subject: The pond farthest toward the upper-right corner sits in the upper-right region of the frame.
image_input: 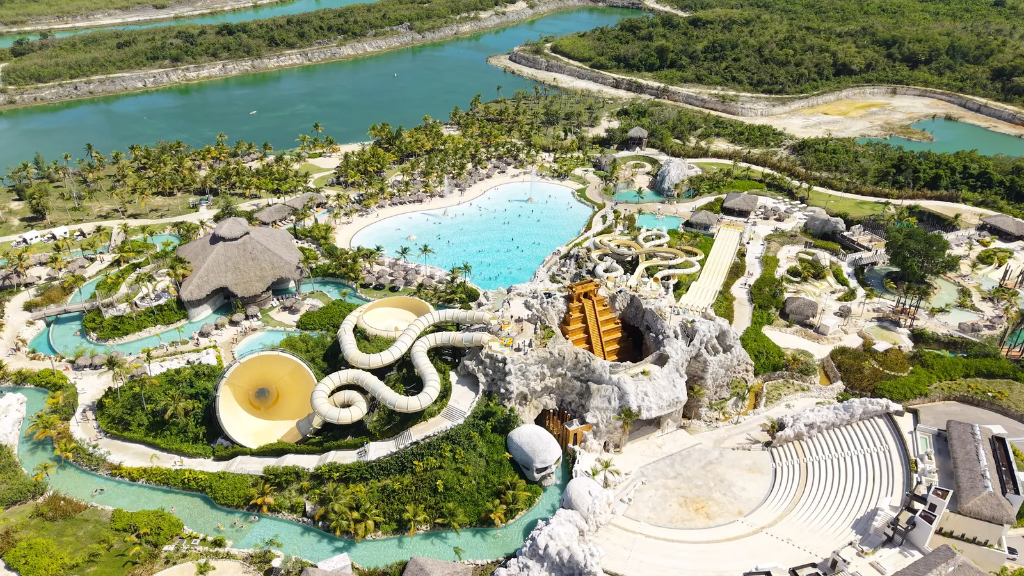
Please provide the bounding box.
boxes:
[856,120,1024,169]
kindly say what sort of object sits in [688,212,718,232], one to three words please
shed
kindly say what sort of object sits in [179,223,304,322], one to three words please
building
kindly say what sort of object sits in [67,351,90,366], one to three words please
umbrella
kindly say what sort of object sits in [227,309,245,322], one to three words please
umbrella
